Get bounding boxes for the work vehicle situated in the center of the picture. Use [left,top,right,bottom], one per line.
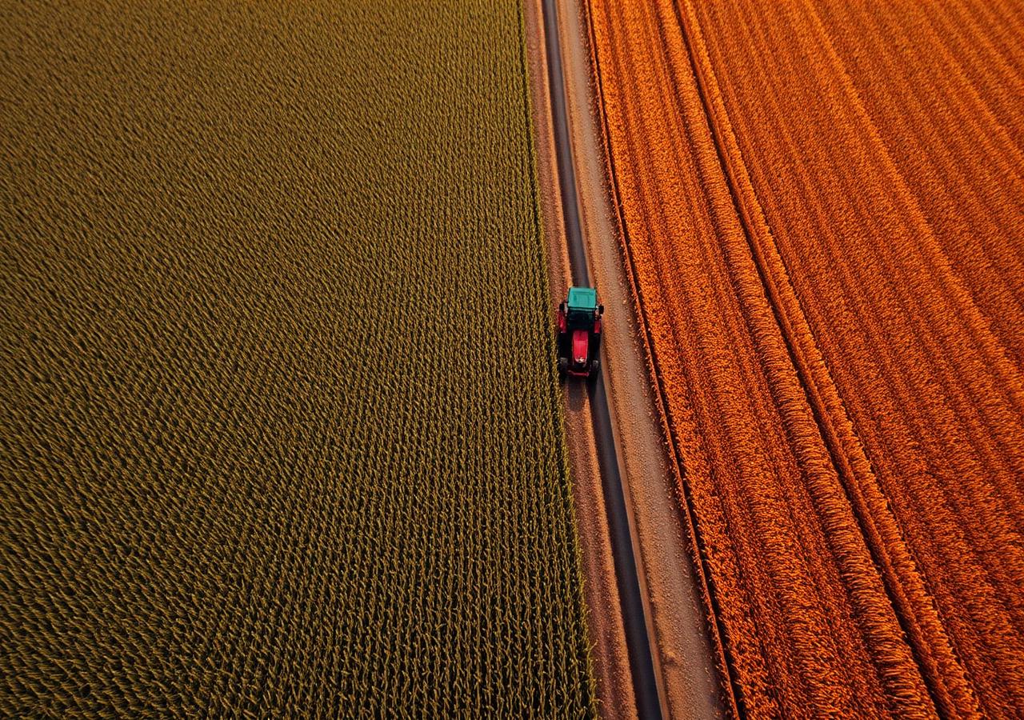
[556,289,604,378]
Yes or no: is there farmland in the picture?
Yes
